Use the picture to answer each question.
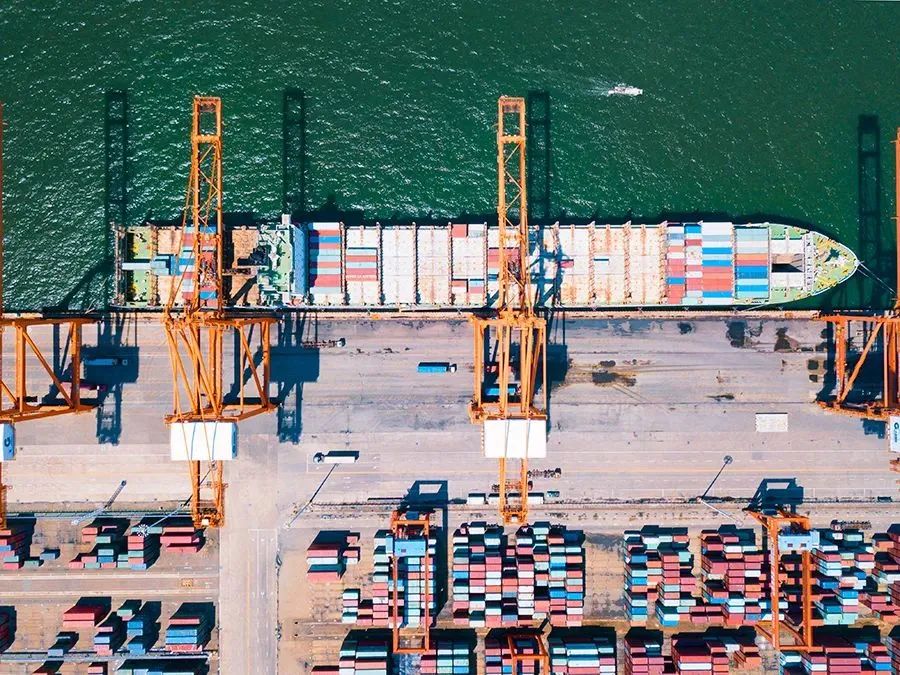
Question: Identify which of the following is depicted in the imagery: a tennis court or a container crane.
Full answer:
There is a container crane in the scene.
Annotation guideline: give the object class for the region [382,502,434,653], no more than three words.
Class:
container crane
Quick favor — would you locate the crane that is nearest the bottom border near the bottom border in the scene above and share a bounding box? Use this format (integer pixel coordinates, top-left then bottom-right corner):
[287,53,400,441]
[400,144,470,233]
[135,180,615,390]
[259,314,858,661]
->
[504,629,552,675]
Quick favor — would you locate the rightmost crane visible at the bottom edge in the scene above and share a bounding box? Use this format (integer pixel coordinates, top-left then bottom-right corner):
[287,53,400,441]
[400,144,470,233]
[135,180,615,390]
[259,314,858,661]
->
[742,502,822,653]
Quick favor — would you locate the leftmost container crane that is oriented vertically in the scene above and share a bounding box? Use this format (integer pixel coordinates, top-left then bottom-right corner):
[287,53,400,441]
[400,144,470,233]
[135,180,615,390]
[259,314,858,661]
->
[0,98,104,528]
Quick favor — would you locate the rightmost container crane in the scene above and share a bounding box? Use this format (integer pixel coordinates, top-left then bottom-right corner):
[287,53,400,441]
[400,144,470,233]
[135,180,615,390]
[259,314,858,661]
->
[798,98,900,528]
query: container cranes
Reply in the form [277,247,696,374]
[0,98,104,528]
[466,97,542,528]
[798,98,900,528]
[742,502,822,653]
[159,97,286,528]
[504,629,552,675]
[382,502,434,653]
